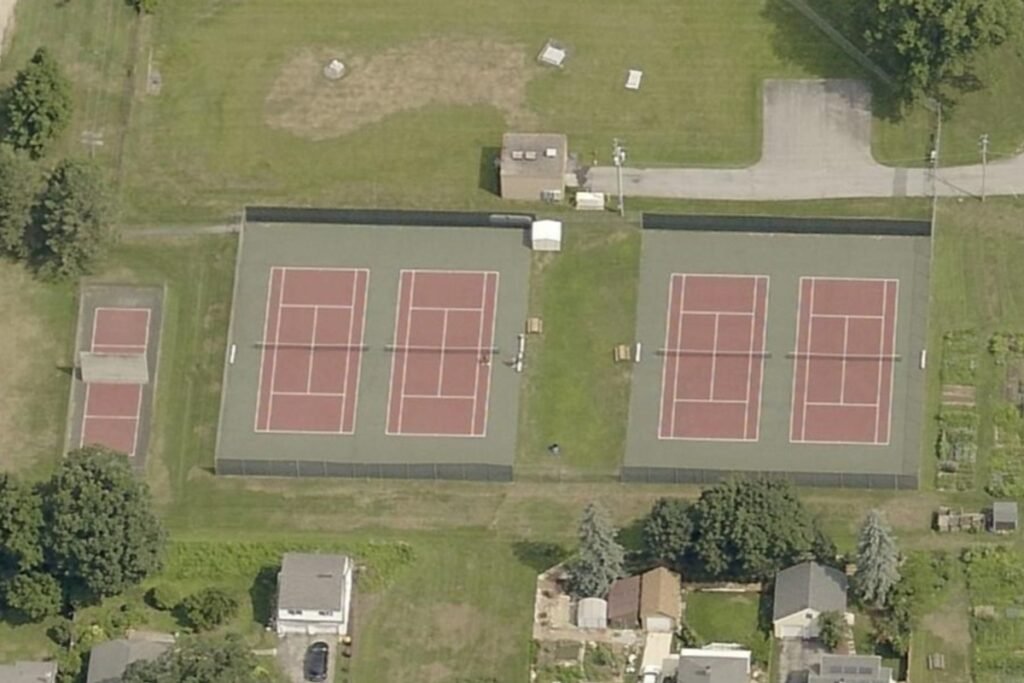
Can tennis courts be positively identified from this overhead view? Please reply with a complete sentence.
Yes, a tennis court is visible in the scene.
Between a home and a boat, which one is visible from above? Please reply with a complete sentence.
The image shows a home.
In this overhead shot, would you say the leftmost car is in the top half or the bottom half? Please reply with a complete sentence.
The leftmost car sits in the bottom half of the picture.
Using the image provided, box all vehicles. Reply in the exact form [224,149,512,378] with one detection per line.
[305,644,327,679]
[642,667,663,683]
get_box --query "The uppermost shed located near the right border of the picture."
[991,501,1018,532]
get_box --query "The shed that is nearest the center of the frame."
[532,218,563,251]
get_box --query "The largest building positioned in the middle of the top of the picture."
[498,134,567,207]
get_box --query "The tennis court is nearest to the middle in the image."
[386,270,499,437]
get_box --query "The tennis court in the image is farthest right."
[790,277,899,444]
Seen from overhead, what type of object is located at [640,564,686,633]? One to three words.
building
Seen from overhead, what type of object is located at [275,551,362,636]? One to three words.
house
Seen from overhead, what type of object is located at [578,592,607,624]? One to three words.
shed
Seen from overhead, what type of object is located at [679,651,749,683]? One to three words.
house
